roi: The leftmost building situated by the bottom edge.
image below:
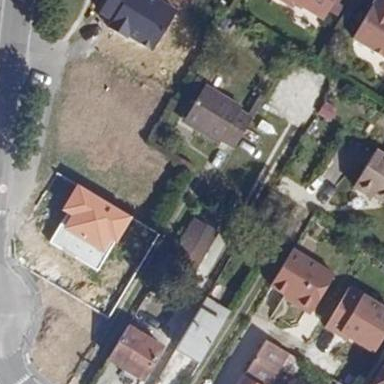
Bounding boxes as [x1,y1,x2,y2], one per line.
[109,324,164,380]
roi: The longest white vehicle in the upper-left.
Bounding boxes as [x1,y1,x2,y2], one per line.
[31,72,52,85]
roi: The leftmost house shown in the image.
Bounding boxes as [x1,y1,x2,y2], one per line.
[62,184,132,253]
